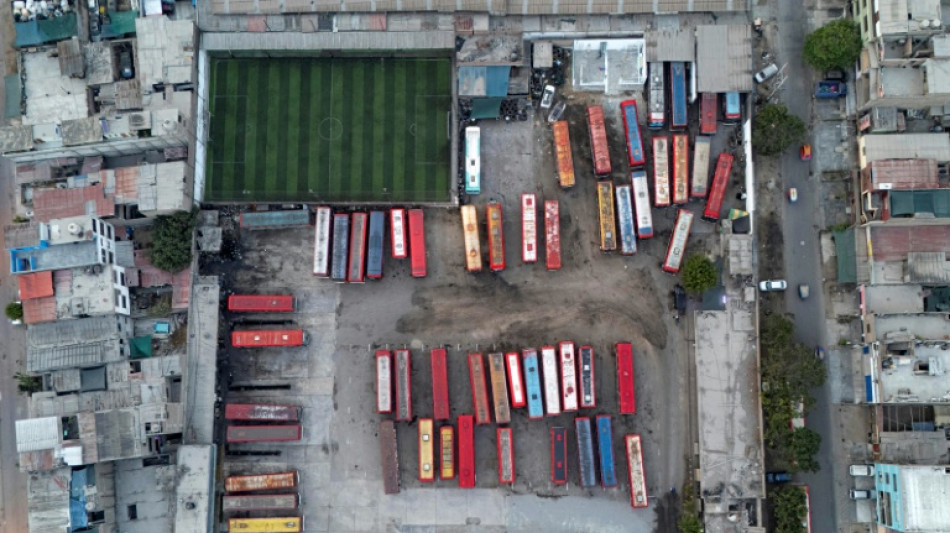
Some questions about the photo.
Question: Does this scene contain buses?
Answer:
Yes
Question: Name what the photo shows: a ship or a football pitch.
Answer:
football pitch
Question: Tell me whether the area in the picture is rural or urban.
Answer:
urban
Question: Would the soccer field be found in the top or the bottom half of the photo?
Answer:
top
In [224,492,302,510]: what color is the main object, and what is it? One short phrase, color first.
gray vehicle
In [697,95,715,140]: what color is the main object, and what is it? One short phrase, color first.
red vehicle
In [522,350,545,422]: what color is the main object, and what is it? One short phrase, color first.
blue bus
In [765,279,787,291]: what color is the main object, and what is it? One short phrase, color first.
white vehicle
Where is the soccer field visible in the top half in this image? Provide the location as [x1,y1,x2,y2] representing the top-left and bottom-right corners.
[205,57,451,199]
